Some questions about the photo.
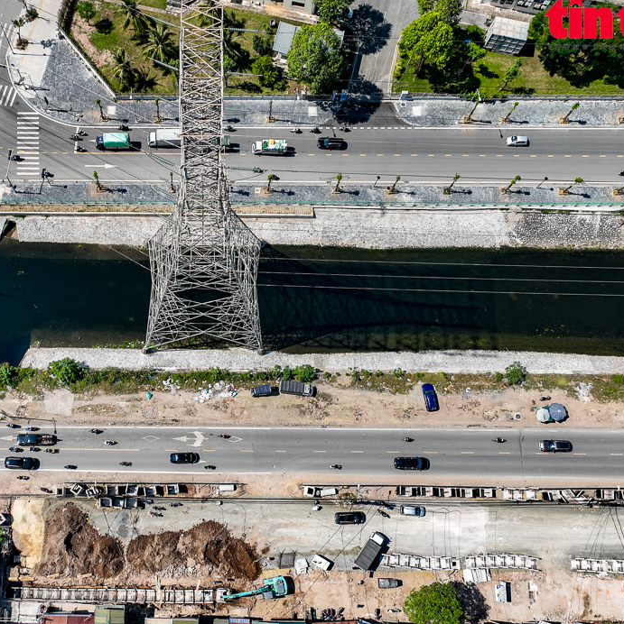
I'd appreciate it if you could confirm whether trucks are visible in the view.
Yes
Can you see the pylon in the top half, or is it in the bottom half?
top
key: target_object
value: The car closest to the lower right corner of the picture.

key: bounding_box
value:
[538,439,572,453]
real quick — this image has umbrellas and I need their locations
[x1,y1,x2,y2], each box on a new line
[547,403,566,422]
[533,408,548,422]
